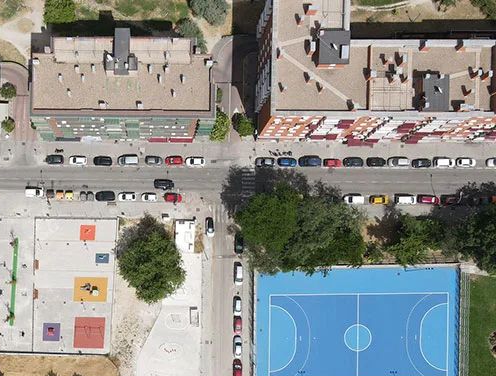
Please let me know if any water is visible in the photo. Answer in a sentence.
No, the scene doesn't show any water.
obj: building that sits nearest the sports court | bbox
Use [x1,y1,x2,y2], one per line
[176,220,195,254]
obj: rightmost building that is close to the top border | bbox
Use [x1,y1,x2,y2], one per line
[253,0,496,145]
